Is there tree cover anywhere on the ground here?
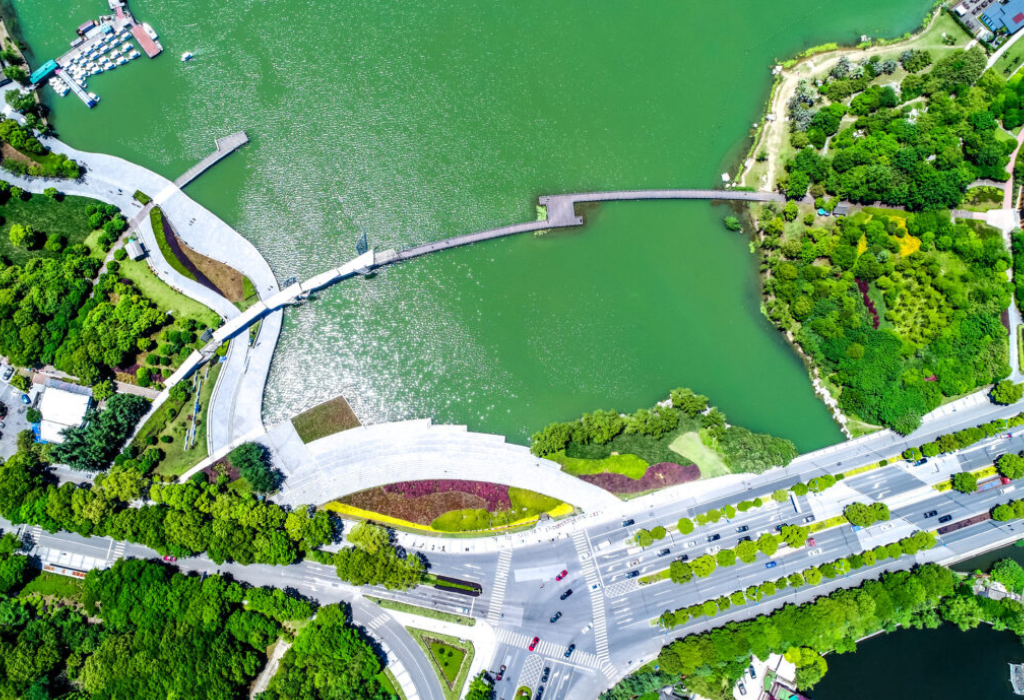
Yes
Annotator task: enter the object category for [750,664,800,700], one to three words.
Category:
house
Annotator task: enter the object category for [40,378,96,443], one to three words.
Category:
building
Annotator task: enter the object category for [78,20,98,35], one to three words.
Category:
boat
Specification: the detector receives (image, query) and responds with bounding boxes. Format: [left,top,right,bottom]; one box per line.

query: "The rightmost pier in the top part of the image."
[176,129,249,187]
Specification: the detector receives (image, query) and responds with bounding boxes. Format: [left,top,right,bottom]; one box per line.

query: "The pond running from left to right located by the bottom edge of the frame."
[808,606,1024,700]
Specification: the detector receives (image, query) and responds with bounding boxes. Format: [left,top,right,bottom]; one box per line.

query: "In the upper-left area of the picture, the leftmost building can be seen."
[30,60,61,86]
